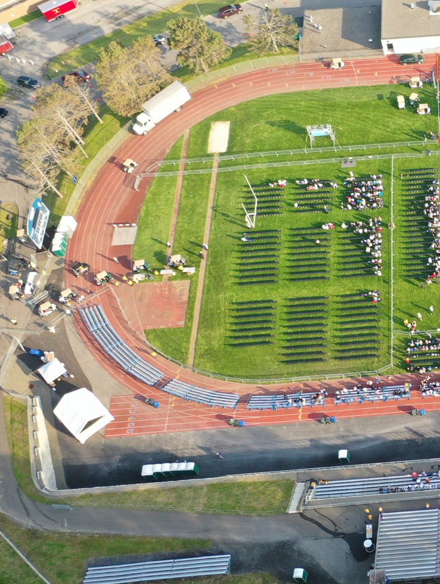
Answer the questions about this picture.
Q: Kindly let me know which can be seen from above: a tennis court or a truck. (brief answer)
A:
truck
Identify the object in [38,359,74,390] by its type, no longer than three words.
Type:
tent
